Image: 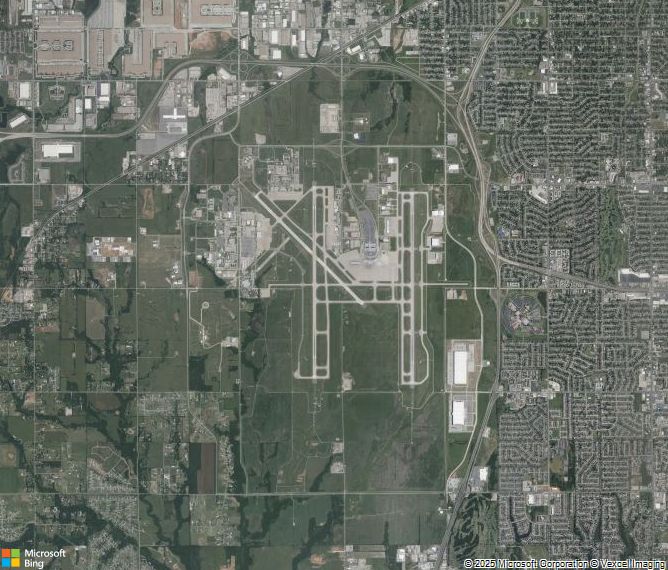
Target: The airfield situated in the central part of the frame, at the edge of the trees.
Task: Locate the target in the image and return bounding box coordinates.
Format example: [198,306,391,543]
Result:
[254,157,470,385]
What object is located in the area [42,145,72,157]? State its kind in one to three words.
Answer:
building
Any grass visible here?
Yes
